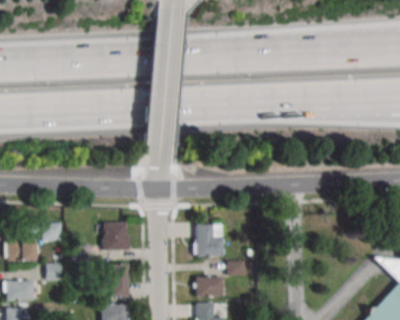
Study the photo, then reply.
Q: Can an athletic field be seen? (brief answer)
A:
No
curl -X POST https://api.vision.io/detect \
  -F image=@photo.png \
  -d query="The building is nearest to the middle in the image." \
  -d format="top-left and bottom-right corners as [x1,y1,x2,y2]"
[192,222,224,256]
